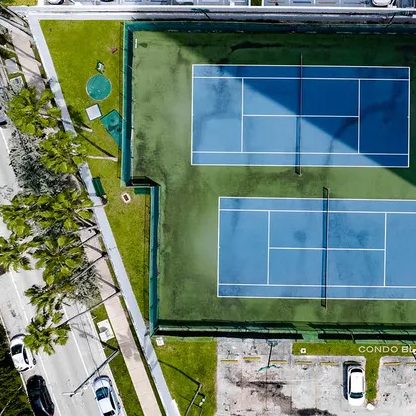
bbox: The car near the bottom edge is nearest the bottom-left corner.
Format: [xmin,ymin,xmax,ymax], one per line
[26,376,57,416]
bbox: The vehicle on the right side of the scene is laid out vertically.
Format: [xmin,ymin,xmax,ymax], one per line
[345,360,365,404]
